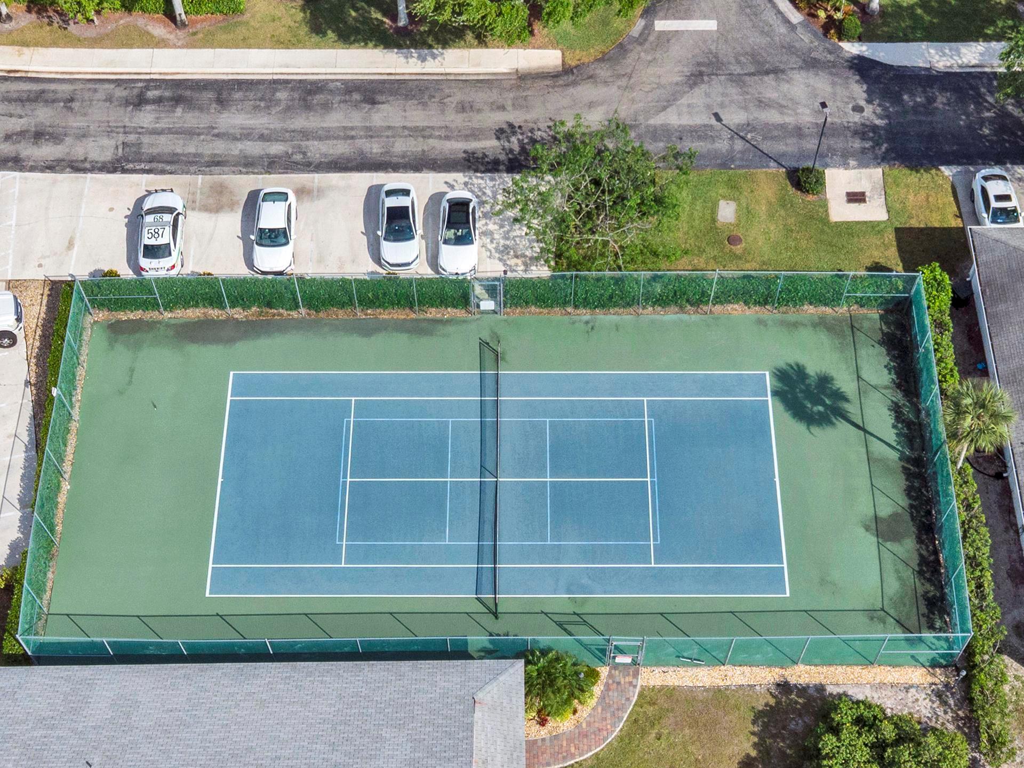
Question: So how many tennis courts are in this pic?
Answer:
1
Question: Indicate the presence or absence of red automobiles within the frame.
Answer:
No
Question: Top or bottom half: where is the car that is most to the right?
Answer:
top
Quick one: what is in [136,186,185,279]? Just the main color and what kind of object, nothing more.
white car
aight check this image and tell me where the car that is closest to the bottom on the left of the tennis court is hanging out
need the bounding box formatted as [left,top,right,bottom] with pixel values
[0,298,27,348]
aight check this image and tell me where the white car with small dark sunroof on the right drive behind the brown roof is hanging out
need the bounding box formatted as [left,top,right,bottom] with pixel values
[975,169,1024,226]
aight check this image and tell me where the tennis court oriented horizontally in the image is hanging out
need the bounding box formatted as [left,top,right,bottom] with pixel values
[46,314,951,667]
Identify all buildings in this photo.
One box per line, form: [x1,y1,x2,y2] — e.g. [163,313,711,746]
[0,657,524,768]
[962,226,1024,571]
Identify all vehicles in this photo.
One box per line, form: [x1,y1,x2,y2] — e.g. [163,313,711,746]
[435,189,482,278]
[136,186,185,279]
[975,169,1024,226]
[375,181,423,272]
[0,298,27,348]
[249,187,299,275]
